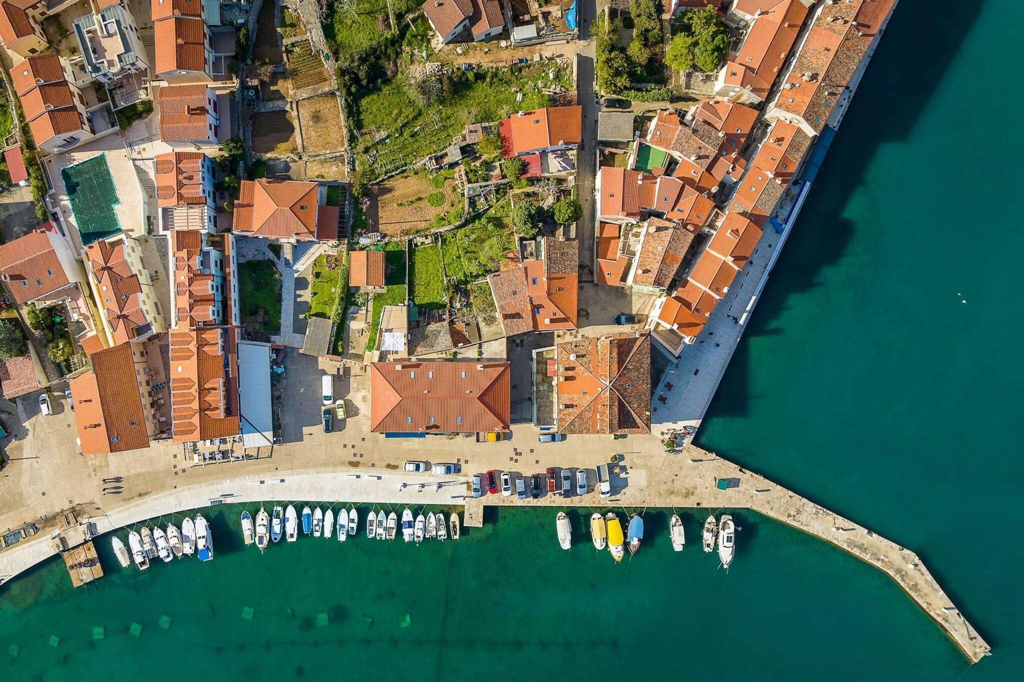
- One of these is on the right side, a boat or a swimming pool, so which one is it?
boat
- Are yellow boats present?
Yes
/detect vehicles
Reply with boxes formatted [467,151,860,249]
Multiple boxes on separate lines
[576,469,587,495]
[485,471,498,495]
[38,392,54,417]
[515,476,527,499]
[335,398,347,421]
[614,313,636,325]
[430,464,456,475]
[64,388,74,412]
[538,432,562,443]
[598,464,611,498]
[545,467,556,492]
[471,473,482,497]
[321,375,334,404]
[501,472,513,497]
[321,407,334,433]
[561,467,571,495]
[12,176,34,186]
[403,461,426,473]
[477,432,505,443]
[530,474,542,499]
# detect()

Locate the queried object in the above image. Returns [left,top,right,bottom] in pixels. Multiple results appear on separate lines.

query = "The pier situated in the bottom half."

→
[64,540,106,588]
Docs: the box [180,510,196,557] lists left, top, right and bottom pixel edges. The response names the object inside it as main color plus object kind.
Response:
white boat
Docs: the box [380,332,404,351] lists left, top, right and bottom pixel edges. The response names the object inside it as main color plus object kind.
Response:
white tent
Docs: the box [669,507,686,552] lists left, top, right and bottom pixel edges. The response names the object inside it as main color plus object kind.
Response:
white boat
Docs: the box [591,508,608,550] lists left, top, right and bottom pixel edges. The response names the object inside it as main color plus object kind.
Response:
yellow boat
